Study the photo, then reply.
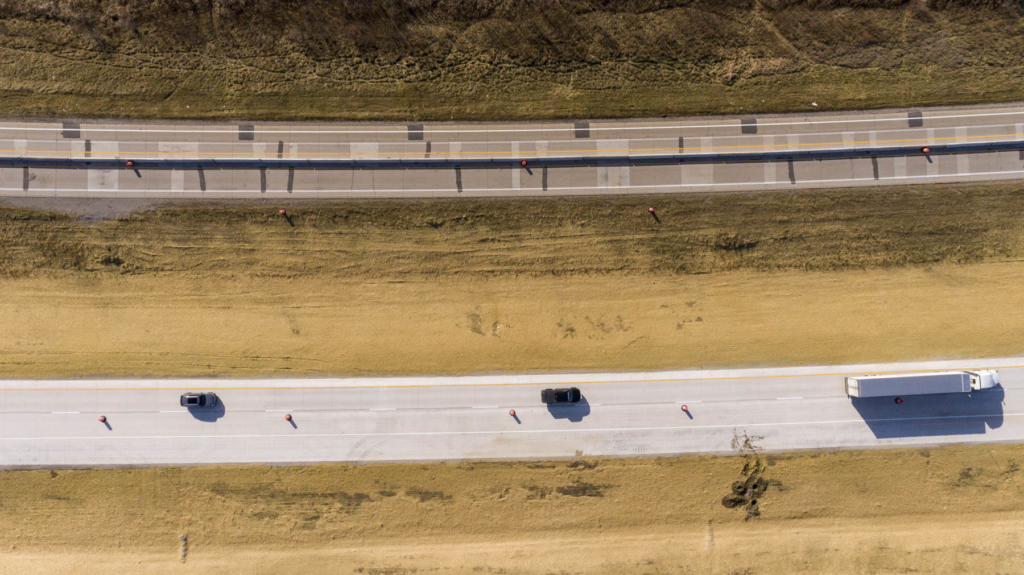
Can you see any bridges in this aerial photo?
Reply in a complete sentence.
No, the picture doesn't show any bridge.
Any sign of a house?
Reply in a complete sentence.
No, the scene contains no house.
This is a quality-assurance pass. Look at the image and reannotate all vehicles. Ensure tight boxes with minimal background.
[179,392,217,408]
[540,387,581,404]
[844,370,1002,397]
